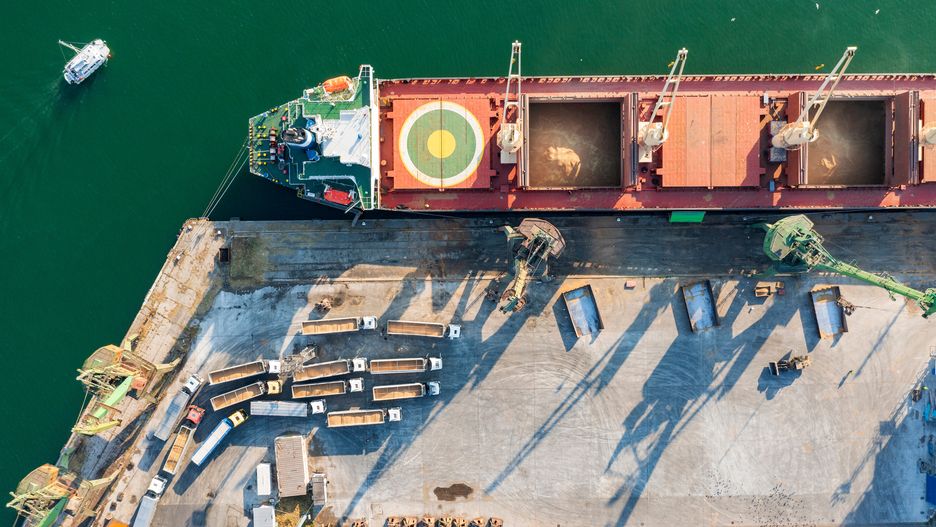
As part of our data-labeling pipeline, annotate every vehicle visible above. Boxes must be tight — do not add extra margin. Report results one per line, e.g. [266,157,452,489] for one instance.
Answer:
[370,354,442,374]
[301,314,378,333]
[250,397,328,416]
[327,404,403,426]
[292,355,368,382]
[372,379,441,401]
[771,353,814,376]
[190,407,250,466]
[124,474,170,527]
[387,319,461,339]
[209,377,284,411]
[207,357,285,385]
[292,375,365,399]
[152,374,207,441]
[162,404,208,475]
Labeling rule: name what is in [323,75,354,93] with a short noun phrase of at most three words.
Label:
boat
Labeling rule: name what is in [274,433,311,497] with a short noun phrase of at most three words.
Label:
shed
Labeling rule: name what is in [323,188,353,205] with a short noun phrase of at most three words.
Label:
boat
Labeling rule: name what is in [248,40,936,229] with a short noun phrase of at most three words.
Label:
ship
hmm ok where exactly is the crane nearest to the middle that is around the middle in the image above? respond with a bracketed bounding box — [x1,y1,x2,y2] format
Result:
[498,217,569,317]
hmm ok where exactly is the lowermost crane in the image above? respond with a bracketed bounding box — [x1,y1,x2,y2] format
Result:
[3,448,122,527]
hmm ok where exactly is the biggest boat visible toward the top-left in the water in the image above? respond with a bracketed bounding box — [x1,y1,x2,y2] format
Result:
[59,37,113,89]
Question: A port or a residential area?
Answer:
port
